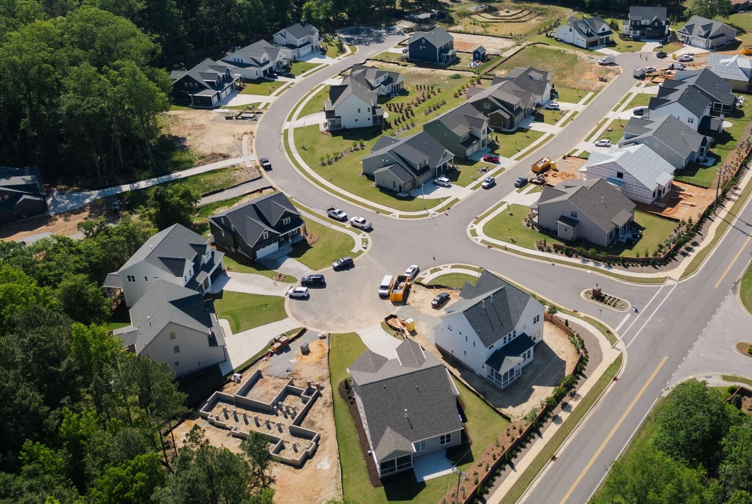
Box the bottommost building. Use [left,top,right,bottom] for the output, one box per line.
[347,335,463,477]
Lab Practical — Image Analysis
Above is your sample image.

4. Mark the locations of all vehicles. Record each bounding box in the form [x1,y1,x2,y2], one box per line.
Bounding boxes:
[678,54,694,61]
[300,272,325,286]
[545,101,560,108]
[350,216,372,228]
[645,65,656,71]
[480,174,496,187]
[599,55,615,63]
[595,137,611,145]
[433,176,452,184]
[513,176,528,186]
[282,72,296,78]
[483,154,500,162]
[428,291,451,306]
[332,254,354,269]
[654,50,669,56]
[326,202,347,217]
[402,262,420,277]
[660,36,668,43]
[380,271,392,292]
[670,61,686,69]
[288,286,309,297]
[261,156,271,168]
